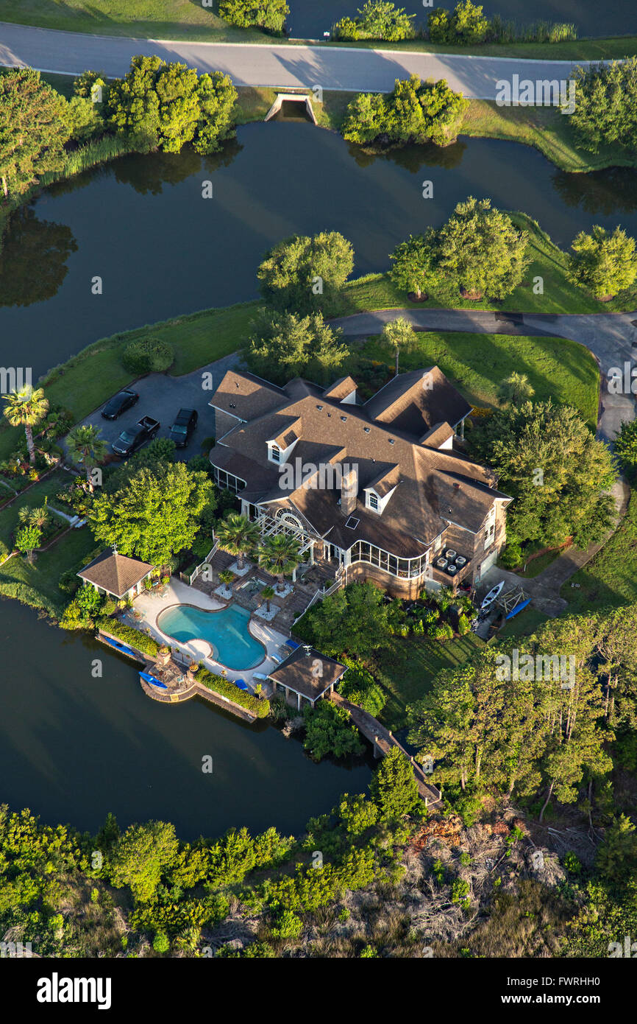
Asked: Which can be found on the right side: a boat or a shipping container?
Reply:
boat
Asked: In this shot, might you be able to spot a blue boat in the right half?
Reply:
Yes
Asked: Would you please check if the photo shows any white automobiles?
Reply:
No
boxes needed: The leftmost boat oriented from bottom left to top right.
[482,579,505,607]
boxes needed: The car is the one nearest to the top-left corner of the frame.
[101,389,138,420]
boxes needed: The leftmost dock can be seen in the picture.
[98,625,262,724]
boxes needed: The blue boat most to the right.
[506,597,532,619]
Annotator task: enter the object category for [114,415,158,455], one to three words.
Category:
vehicle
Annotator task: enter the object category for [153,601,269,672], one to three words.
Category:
swimming pool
